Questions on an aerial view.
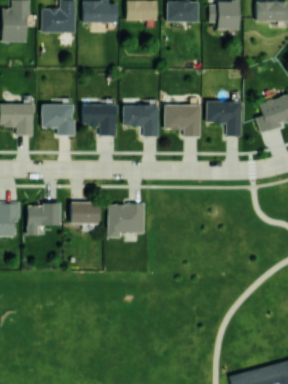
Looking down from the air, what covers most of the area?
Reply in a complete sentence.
The bulk of the photo consists of grass.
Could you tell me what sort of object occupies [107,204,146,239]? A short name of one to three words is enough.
house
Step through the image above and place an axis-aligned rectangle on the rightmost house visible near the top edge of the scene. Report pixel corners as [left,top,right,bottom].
[256,0,288,22]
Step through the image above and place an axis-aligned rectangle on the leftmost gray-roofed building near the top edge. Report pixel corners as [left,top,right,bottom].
[2,0,30,43]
